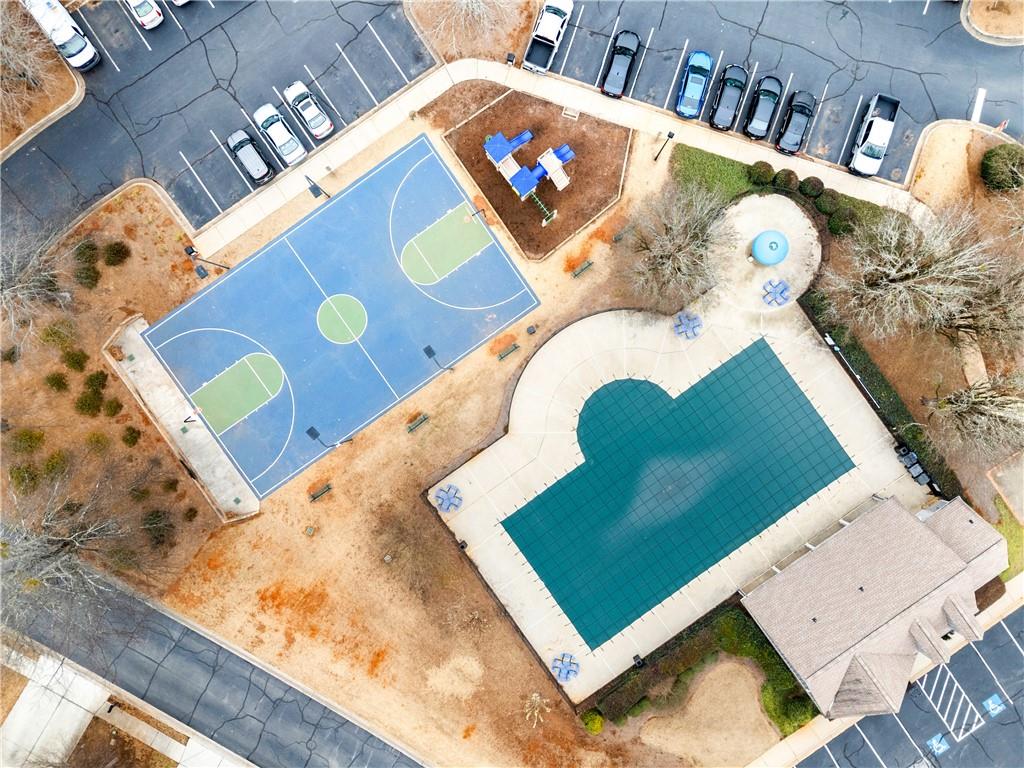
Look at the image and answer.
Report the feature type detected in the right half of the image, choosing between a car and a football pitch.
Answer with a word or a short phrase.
car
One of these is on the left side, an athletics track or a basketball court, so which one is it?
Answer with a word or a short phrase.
basketball court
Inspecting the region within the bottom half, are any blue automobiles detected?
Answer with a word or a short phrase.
No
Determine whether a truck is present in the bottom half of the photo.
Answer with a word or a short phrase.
No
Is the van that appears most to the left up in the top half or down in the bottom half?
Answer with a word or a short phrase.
top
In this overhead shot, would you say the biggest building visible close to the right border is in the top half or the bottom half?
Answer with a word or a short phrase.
bottom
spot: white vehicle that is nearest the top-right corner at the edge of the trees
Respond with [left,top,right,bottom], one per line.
[850,92,903,180]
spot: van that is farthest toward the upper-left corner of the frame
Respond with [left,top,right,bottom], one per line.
[26,0,105,76]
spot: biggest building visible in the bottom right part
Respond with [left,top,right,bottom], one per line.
[735,492,1008,720]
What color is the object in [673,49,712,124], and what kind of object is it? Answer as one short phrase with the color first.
blue car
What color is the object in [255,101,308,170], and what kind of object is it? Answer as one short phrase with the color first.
white car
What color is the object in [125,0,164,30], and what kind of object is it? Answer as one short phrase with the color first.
white car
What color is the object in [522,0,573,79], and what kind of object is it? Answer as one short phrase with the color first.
white truck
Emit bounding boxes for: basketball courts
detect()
[139,132,545,505]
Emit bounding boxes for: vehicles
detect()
[125,0,164,30]
[26,0,105,76]
[599,30,641,103]
[673,49,712,124]
[227,128,276,189]
[741,76,781,144]
[285,80,335,144]
[255,101,308,170]
[522,0,573,79]
[705,63,748,135]
[773,91,816,158]
[850,92,903,180]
